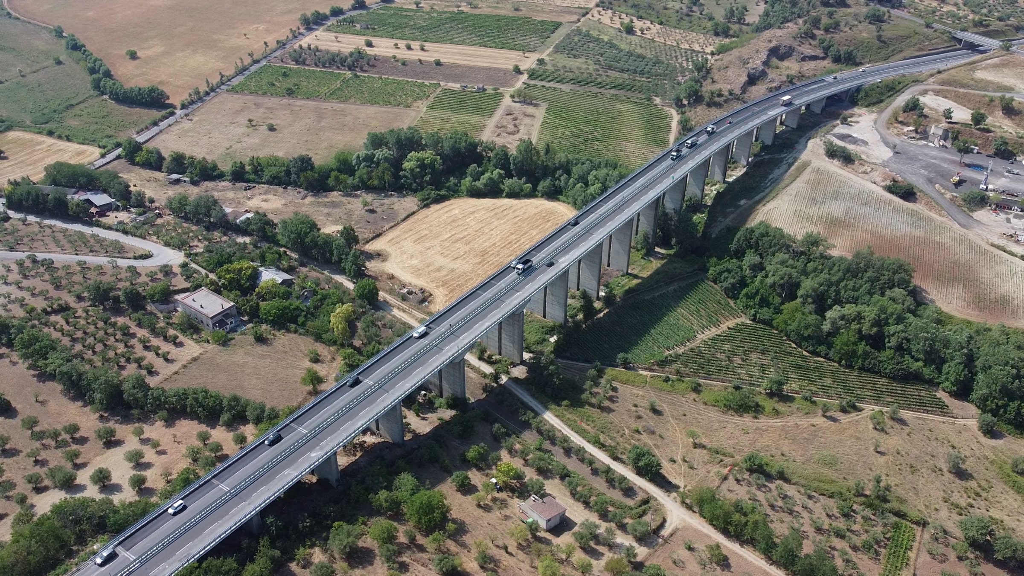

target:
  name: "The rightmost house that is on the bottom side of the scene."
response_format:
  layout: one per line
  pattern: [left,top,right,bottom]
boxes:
[521,488,565,527]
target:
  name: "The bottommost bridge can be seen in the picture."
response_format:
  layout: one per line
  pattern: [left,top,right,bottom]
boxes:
[96,75,870,576]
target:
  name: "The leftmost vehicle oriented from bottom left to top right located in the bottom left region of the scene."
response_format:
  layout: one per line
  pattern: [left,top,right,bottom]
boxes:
[95,548,116,565]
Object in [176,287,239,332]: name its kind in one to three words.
house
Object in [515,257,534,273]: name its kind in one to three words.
vehicle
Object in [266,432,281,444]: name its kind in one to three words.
vehicle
